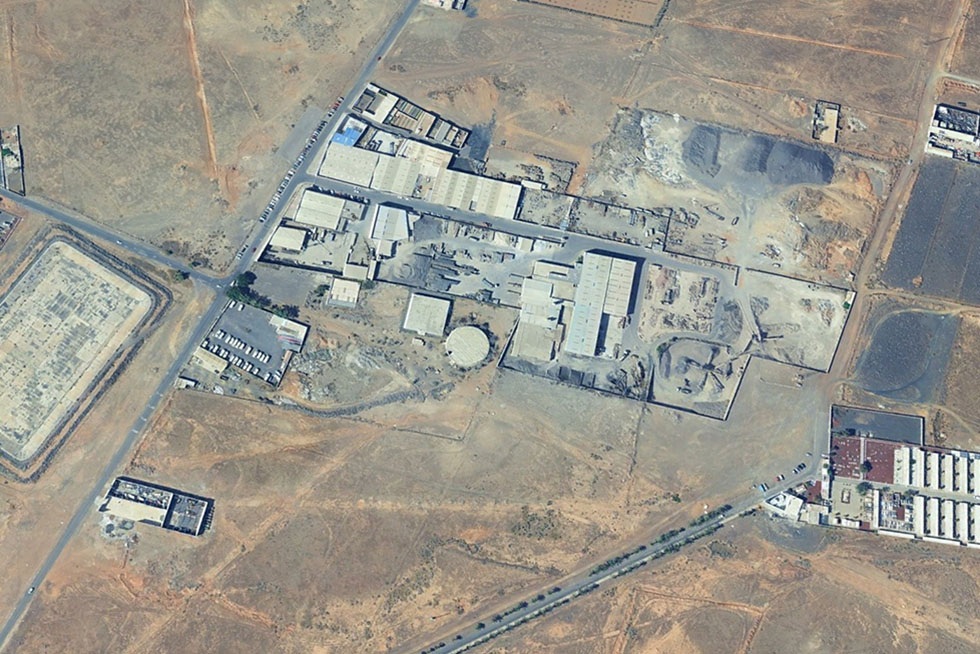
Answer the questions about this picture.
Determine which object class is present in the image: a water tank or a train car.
water tank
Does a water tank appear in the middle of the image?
Yes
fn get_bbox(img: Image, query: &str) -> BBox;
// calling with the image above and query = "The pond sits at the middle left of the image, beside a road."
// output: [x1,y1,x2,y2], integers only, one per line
[0,225,166,478]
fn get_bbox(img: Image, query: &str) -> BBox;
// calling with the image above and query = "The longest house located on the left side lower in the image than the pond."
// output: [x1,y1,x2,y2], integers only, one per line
[100,498,167,525]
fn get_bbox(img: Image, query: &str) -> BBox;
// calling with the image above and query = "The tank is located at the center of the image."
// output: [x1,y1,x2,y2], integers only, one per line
[441,325,489,368]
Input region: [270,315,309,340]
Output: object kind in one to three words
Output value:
building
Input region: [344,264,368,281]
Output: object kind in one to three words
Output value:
shed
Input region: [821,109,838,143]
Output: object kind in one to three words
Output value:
house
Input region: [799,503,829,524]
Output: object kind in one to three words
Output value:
house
